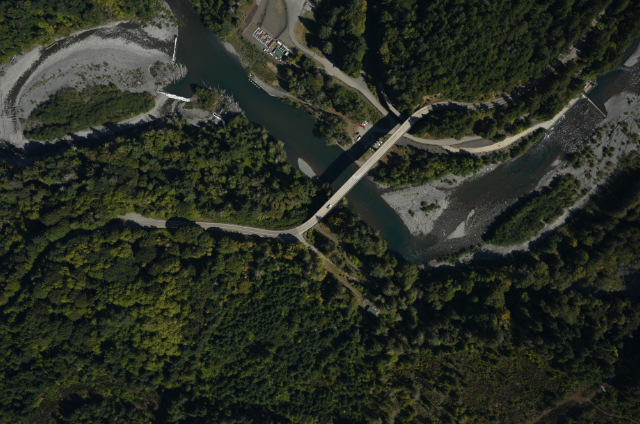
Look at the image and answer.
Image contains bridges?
Yes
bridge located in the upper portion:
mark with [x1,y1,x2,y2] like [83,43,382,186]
[315,114,418,218]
